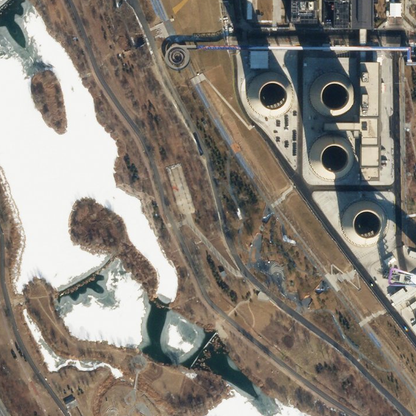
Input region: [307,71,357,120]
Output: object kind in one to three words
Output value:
cooling tower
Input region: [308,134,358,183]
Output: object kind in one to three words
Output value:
cooling tower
